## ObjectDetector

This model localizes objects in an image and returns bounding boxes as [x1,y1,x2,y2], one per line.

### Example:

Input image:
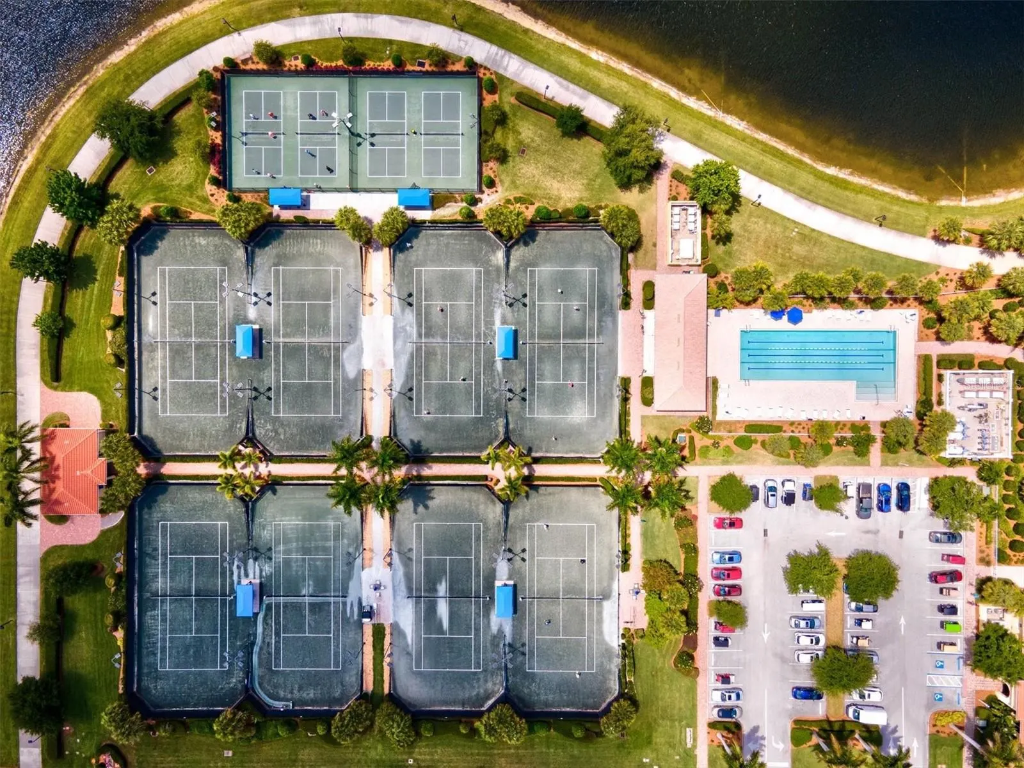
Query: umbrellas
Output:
[768,308,782,322]
[786,307,802,325]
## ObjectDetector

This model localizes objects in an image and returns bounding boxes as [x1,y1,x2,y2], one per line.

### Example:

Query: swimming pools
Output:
[739,325,898,405]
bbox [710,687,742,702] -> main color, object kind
white car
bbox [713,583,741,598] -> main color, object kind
red car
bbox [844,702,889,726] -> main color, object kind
white vehicle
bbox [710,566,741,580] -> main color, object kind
red car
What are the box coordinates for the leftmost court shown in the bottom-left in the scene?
[136,487,249,709]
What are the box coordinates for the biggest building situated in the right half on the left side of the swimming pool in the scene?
[654,274,708,411]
